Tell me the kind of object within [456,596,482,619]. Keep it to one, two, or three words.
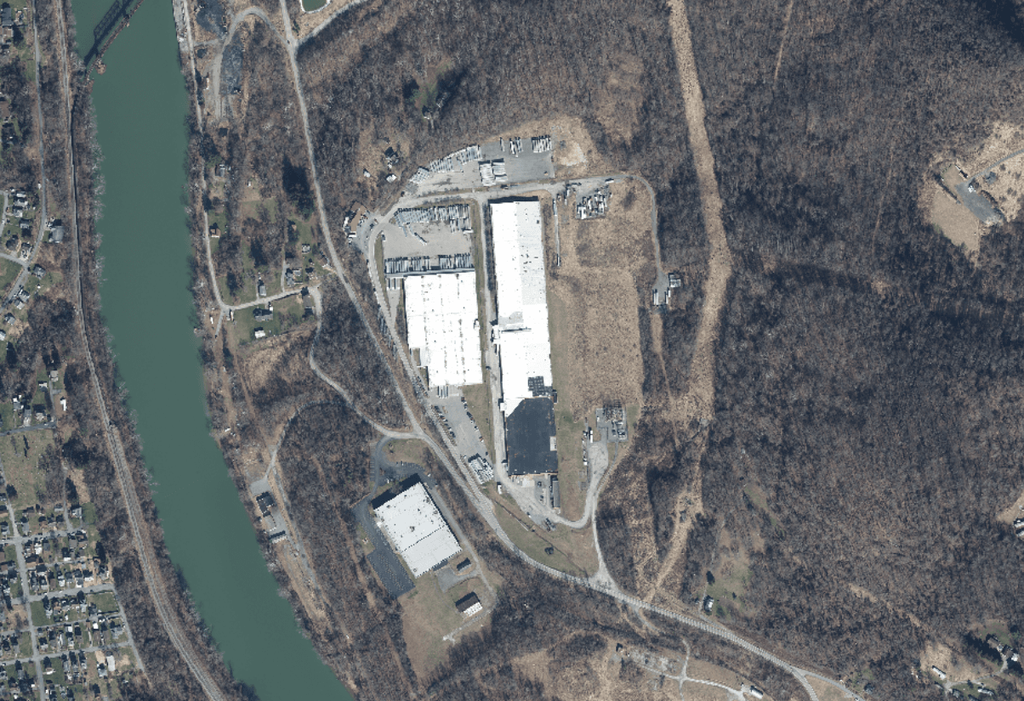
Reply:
barn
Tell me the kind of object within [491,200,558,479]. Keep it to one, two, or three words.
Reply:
building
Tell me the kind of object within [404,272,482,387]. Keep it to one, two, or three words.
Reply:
building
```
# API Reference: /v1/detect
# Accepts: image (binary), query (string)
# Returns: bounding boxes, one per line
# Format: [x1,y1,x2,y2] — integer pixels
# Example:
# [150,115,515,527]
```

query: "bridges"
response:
[83,0,142,85]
